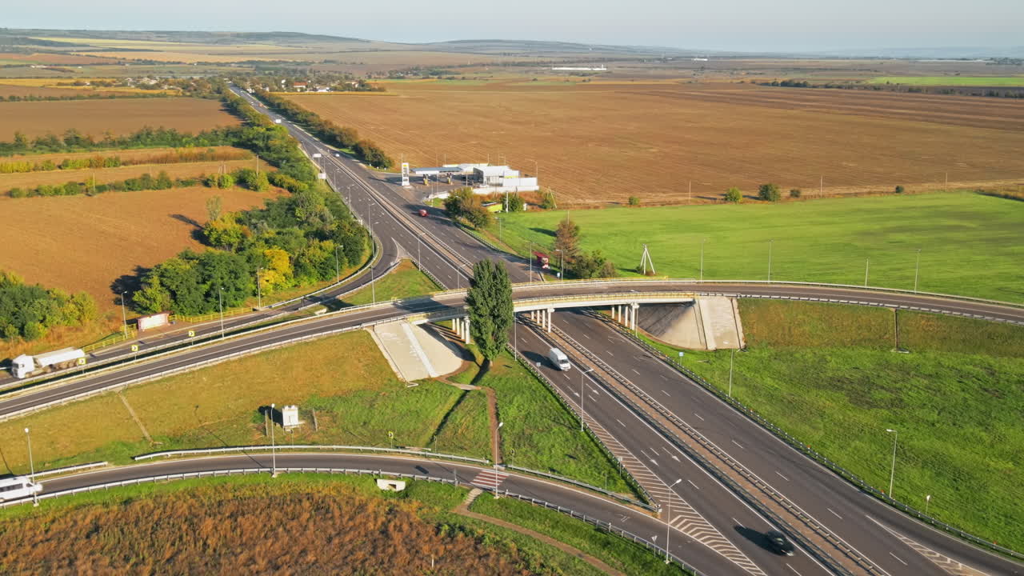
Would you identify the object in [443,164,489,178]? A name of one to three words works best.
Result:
building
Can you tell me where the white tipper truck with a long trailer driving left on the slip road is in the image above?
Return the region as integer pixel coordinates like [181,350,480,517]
[8,346,83,378]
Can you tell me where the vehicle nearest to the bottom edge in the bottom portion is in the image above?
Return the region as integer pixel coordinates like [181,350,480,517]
[765,531,796,554]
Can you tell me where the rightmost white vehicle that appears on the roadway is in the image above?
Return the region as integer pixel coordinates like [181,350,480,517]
[550,349,570,369]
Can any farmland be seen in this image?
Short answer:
Yes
